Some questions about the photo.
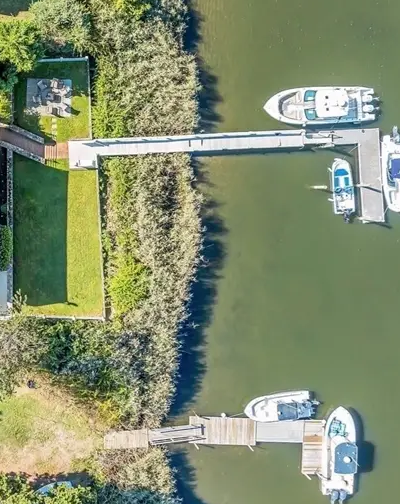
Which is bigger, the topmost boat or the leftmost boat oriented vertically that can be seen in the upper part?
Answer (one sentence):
Compared with the leftmost boat oriented vertically that can be seen in the upper part, the topmost boat is the bigger one.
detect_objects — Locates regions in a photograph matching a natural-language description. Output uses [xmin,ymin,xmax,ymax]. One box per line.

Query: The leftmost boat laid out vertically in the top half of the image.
[324,158,352,220]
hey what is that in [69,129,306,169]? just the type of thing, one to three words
pier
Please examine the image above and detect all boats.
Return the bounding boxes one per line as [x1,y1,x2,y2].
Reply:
[263,86,379,128]
[380,131,400,212]
[243,392,316,422]
[324,158,352,220]
[322,405,359,501]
